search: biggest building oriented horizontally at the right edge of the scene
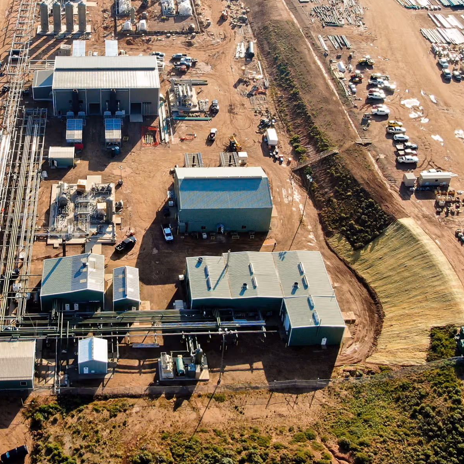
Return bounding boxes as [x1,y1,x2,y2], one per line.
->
[416,172,453,187]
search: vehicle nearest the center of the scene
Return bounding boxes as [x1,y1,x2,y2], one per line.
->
[160,220,175,242]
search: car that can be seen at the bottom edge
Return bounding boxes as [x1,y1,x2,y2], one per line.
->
[0,439,32,462]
